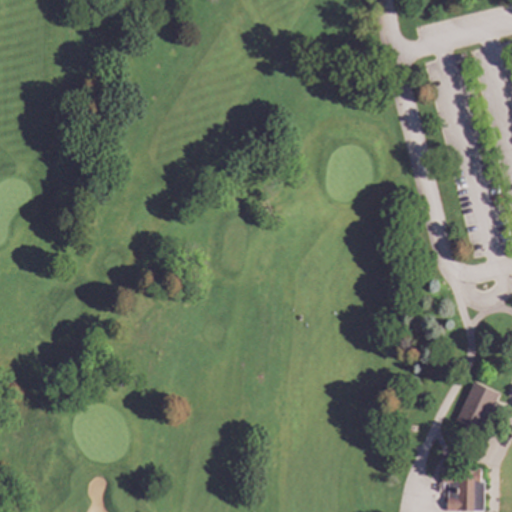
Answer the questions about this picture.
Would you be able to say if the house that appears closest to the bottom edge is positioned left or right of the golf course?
to its right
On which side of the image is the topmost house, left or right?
right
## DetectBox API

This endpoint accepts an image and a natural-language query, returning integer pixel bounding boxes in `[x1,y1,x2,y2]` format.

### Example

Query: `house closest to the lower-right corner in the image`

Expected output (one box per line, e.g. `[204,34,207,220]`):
[442,468,484,511]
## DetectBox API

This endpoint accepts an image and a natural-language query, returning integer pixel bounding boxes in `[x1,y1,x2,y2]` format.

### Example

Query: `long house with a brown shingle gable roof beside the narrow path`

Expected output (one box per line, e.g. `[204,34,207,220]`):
[458,380,498,428]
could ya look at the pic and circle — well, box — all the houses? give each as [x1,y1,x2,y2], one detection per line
[458,380,498,428]
[442,468,484,511]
